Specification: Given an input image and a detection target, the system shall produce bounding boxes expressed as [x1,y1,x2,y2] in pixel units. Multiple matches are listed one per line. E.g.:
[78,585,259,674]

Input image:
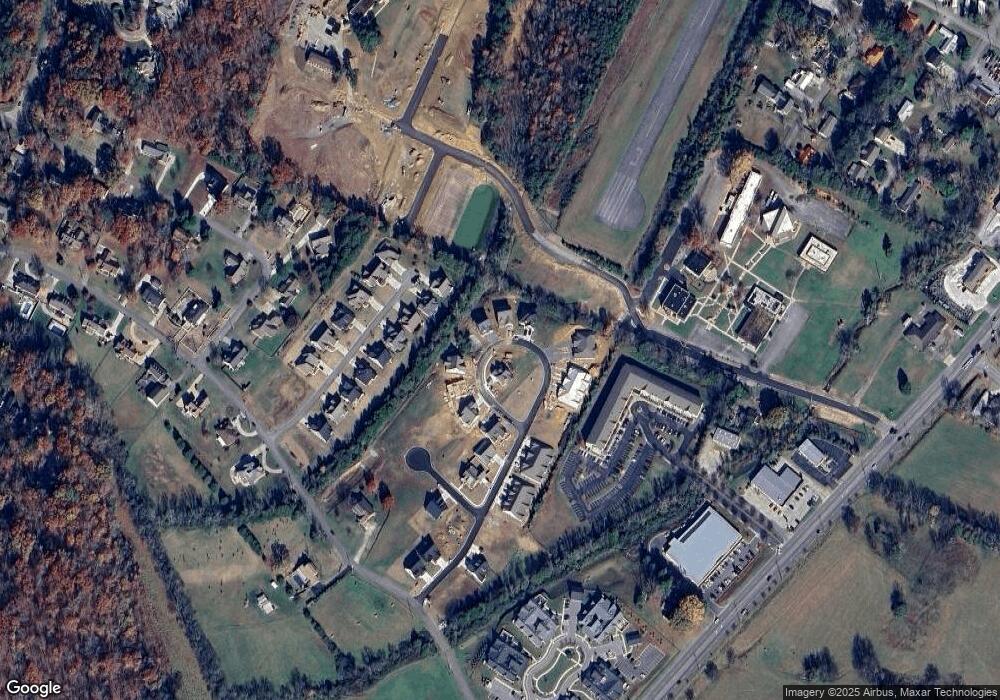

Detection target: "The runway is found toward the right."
[597,0,724,226]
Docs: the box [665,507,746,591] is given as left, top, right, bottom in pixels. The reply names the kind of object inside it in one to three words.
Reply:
building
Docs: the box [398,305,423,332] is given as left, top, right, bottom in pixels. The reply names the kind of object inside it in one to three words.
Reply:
house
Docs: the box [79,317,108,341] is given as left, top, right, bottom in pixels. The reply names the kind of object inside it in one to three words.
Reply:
house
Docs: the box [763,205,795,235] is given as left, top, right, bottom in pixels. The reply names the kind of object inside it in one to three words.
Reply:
building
